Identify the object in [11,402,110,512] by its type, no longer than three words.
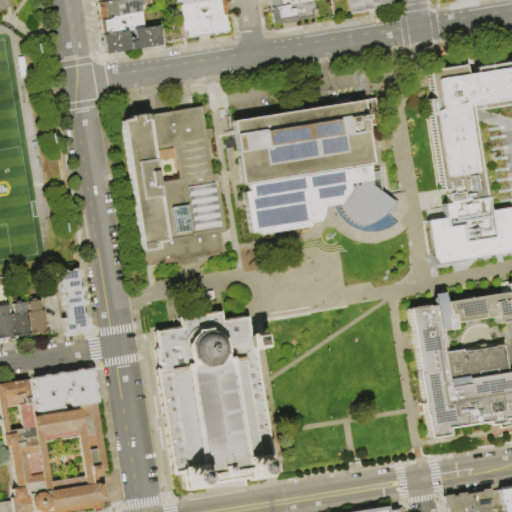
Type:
building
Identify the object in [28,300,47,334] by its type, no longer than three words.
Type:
house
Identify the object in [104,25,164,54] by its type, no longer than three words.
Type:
building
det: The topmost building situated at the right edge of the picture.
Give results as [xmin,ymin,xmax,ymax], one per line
[426,58,512,202]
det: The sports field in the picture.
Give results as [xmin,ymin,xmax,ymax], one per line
[0,34,43,268]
